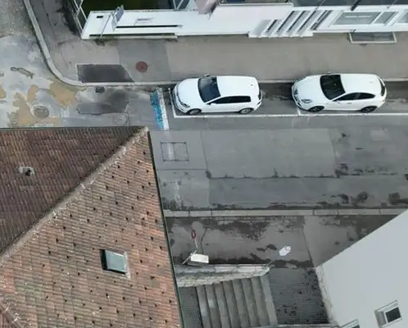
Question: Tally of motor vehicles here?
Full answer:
Looking from above, you can make out 2 motor vehicles.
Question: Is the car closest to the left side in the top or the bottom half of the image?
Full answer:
The car closest to the left side sits in the top half of the picture.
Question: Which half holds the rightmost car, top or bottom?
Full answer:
Seen from above, the rightmost car lies in the top half of the view.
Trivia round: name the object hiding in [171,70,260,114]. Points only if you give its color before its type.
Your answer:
white car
